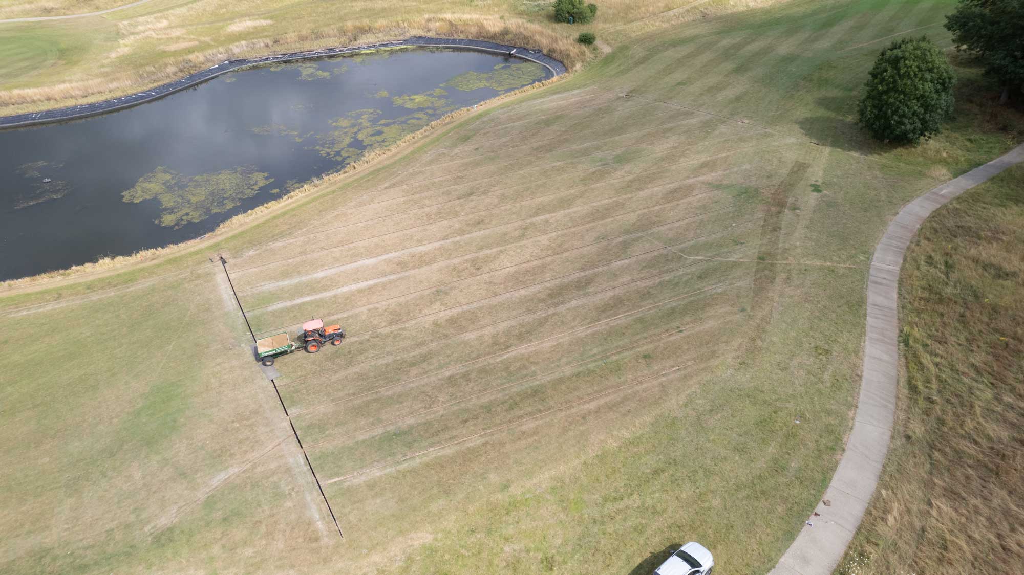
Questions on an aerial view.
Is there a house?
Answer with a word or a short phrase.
No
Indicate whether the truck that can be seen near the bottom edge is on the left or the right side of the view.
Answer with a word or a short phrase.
right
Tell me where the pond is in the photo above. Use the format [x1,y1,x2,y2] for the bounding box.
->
[0,48,557,282]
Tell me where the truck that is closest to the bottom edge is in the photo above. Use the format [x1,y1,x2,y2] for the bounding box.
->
[651,539,712,575]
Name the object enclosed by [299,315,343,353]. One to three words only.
work vehicle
